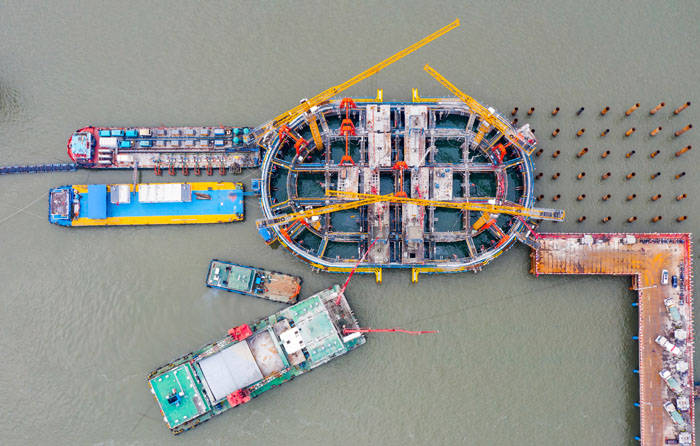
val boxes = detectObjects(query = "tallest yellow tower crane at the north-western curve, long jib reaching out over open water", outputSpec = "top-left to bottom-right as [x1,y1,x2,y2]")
[243,18,461,159]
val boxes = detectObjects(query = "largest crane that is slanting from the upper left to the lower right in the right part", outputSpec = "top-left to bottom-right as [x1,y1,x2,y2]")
[423,64,534,159]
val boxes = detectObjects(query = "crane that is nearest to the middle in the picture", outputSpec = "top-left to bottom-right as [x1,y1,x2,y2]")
[256,191,396,237]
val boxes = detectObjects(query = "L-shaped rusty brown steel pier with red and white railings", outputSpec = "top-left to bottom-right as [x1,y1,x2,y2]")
[526,233,700,446]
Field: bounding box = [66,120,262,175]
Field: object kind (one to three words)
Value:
ship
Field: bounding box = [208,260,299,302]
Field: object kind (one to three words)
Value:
boat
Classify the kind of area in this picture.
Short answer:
port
